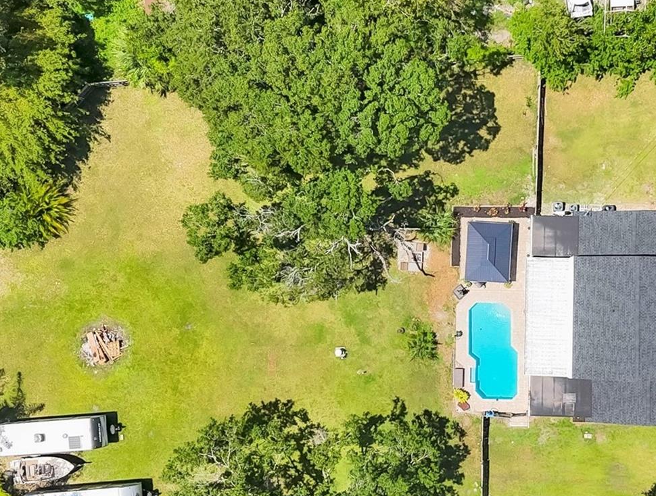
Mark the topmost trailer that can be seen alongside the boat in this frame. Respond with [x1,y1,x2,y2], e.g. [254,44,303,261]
[0,414,129,456]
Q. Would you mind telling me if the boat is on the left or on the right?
left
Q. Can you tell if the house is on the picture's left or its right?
right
